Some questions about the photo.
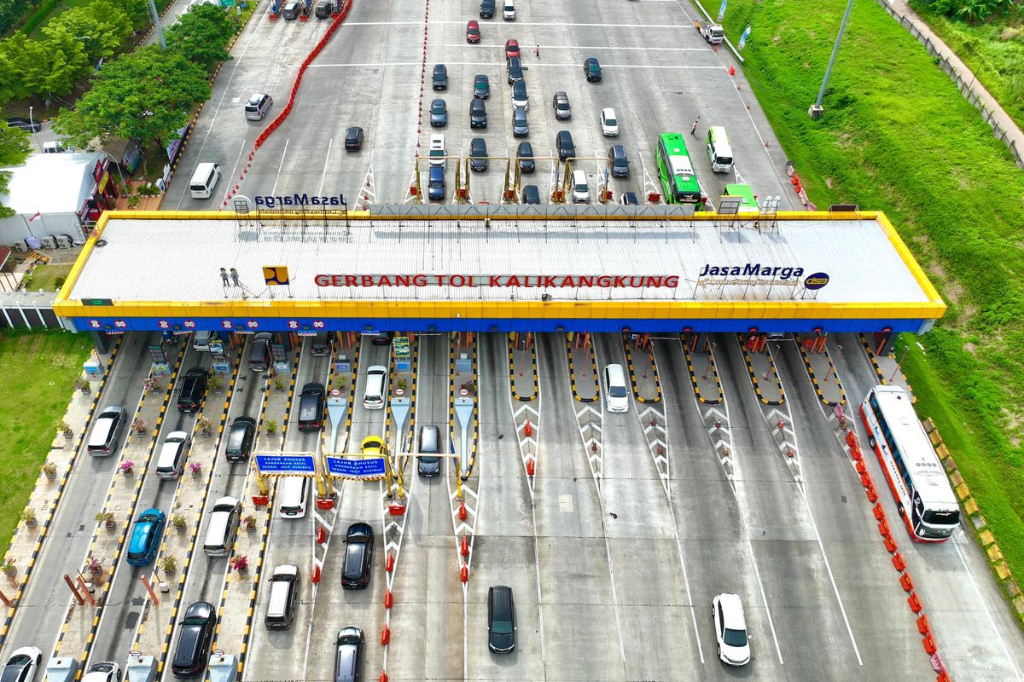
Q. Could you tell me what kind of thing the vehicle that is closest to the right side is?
bus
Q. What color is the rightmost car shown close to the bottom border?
white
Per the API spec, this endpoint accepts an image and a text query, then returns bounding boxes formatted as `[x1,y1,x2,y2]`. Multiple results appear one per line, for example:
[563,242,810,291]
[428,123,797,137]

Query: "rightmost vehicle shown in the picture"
[865,388,978,542]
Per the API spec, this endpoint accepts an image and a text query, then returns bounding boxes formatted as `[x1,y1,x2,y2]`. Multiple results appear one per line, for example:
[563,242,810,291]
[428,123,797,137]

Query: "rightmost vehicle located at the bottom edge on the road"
[706,587,753,663]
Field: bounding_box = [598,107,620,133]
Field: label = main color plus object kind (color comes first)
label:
white car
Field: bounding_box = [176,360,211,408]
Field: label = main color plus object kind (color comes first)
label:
black car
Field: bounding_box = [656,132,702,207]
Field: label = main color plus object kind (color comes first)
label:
green bus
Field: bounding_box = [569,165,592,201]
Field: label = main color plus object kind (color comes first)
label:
white car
